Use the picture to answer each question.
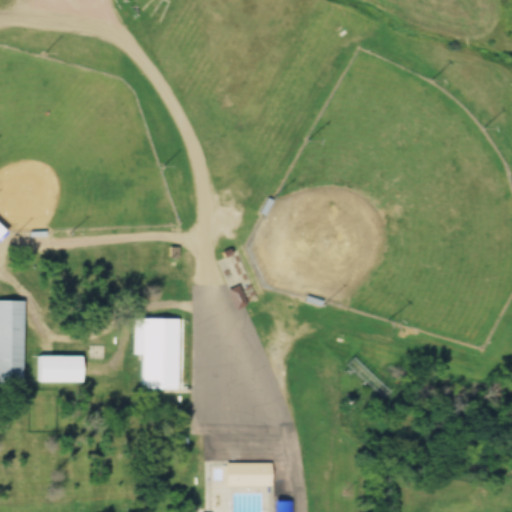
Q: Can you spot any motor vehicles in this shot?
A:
No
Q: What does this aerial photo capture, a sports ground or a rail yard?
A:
sports ground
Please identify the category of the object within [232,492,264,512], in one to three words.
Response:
swimming pool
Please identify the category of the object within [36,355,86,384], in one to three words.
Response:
shed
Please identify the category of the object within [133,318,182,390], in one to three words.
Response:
building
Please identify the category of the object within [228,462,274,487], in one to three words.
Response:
building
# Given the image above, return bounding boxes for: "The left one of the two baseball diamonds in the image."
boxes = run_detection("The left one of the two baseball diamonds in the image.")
[0,44,181,231]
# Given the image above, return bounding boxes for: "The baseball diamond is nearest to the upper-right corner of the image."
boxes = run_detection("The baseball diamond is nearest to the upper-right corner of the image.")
[246,48,512,349]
